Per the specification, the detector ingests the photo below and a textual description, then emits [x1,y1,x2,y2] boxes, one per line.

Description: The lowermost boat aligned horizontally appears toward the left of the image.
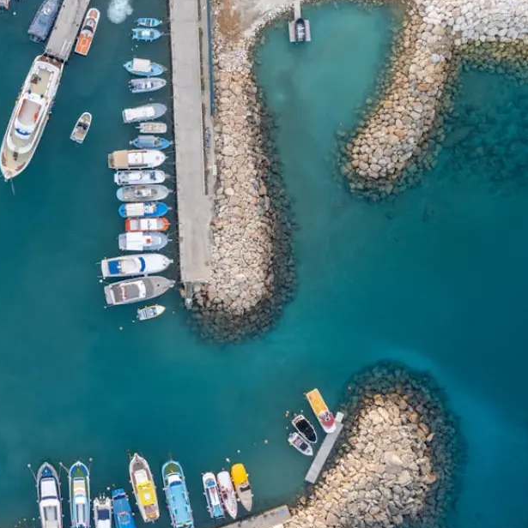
[134,305,166,319]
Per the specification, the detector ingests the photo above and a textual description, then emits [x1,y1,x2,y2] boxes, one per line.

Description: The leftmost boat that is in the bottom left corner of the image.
[29,463,63,528]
